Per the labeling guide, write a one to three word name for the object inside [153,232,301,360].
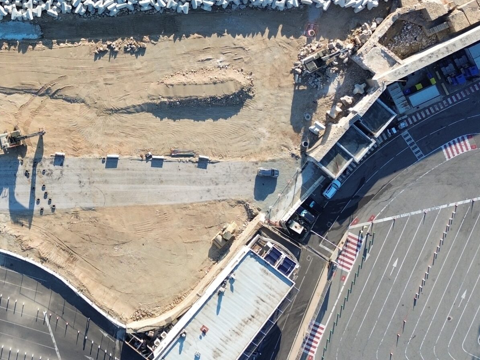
building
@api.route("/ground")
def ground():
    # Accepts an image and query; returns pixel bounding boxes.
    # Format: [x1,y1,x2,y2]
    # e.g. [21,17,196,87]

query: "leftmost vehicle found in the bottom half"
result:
[212,222,235,250]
